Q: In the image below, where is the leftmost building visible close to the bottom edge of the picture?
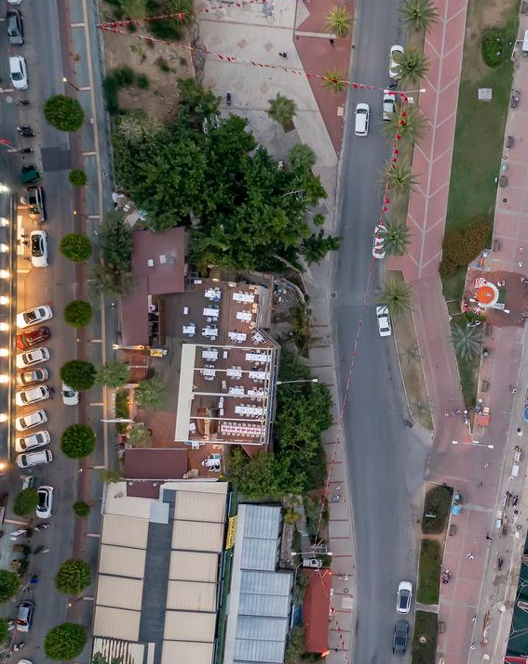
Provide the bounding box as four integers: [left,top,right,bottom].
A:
[92,479,235,664]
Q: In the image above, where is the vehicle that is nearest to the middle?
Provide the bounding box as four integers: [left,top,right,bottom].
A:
[375,303,392,338]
